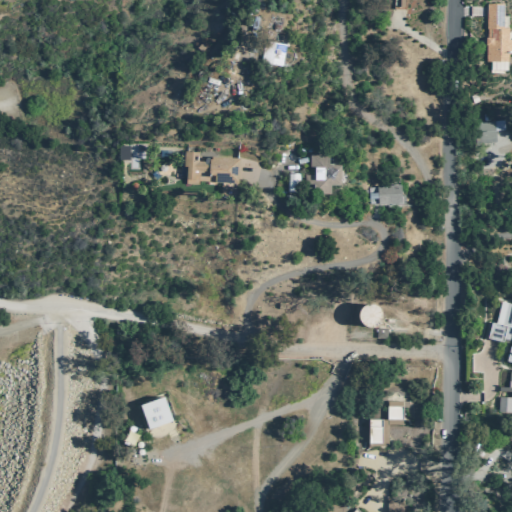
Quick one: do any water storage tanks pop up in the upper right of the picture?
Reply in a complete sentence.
No, there's no water storage tank to be seen in the upper right of the picture.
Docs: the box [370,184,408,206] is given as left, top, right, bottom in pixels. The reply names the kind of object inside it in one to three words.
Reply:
house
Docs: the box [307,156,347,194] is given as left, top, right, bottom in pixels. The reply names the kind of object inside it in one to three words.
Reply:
house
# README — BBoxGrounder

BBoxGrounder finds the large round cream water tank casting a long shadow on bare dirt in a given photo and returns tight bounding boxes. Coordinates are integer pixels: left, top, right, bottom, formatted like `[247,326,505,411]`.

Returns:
[360,304,384,328]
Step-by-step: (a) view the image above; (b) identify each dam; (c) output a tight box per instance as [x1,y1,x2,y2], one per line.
[0,313,98,512]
